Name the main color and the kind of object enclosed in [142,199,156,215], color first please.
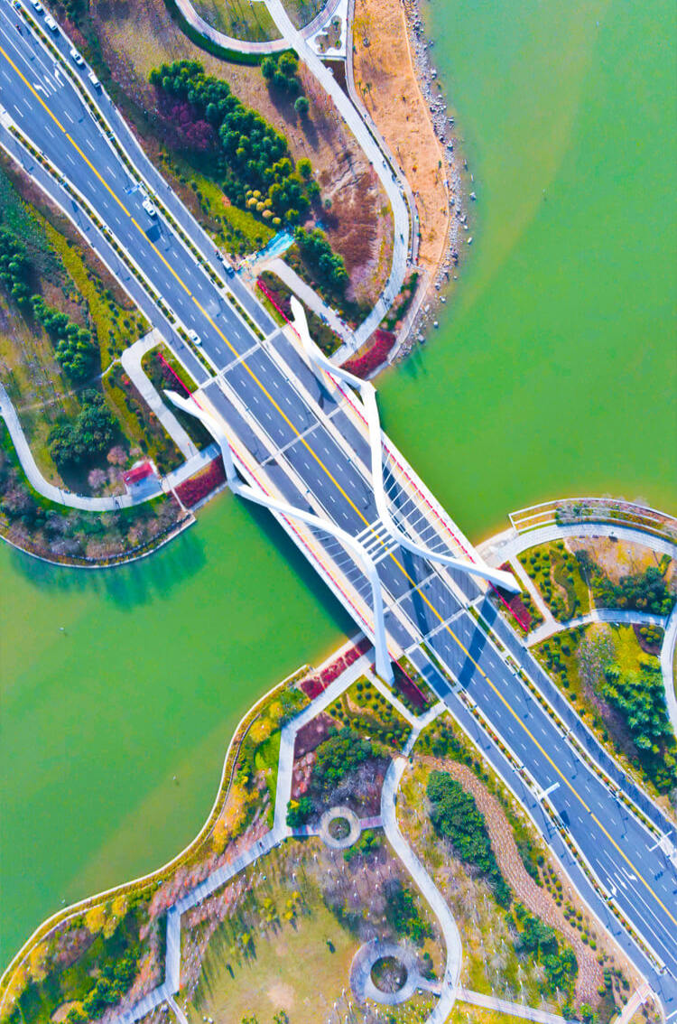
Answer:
white car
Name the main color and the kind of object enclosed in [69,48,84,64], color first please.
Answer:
white car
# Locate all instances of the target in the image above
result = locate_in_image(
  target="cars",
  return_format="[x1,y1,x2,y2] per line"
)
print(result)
[43,15,57,31]
[142,199,156,215]
[86,71,101,87]
[69,48,84,64]
[30,0,44,13]
[187,328,201,344]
